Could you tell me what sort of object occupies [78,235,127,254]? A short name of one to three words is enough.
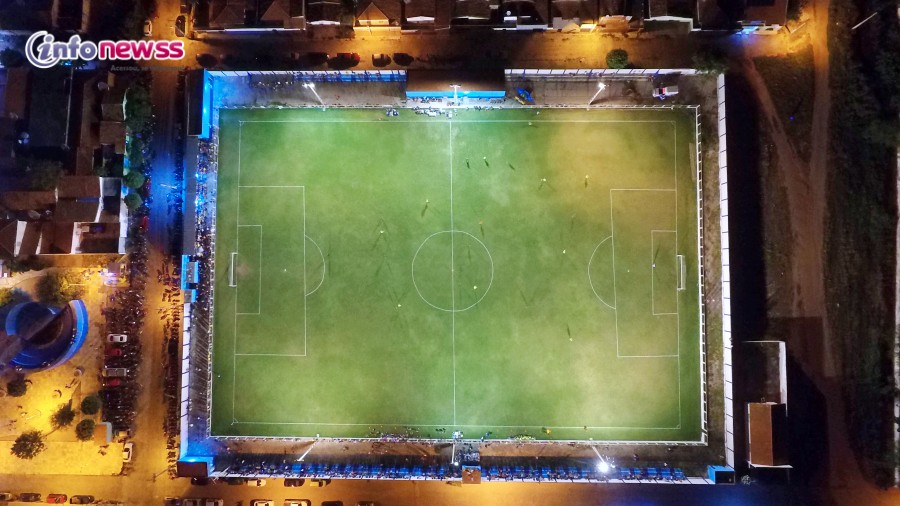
house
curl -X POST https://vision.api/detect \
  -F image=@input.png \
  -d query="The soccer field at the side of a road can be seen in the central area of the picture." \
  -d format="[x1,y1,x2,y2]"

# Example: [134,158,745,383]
[211,107,702,442]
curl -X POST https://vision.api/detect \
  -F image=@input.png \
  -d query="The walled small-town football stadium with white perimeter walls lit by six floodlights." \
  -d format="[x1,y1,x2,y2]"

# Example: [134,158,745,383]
[178,68,737,485]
